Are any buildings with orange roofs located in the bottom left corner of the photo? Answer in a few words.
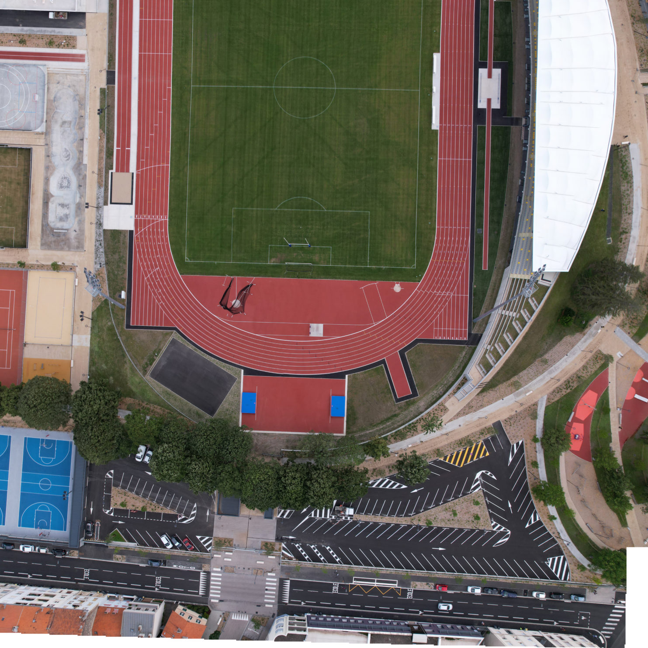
Yes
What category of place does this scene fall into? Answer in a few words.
sports ground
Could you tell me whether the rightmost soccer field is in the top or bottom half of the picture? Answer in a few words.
top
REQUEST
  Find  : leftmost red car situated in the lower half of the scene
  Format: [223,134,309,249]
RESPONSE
[182,537,195,551]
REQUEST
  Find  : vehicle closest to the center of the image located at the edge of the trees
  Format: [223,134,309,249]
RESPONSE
[334,505,355,517]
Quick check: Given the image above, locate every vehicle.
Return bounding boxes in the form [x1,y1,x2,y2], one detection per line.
[47,11,69,20]
[550,591,565,601]
[532,590,546,599]
[143,450,153,464]
[435,584,449,592]
[160,533,173,550]
[20,544,35,553]
[35,545,49,554]
[51,547,67,557]
[86,521,94,537]
[170,534,182,549]
[182,537,195,551]
[468,585,482,593]
[148,558,163,568]
[136,446,144,462]
[437,602,453,612]
[569,593,586,602]
[334,505,355,517]
[1,542,15,550]
[483,587,498,597]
